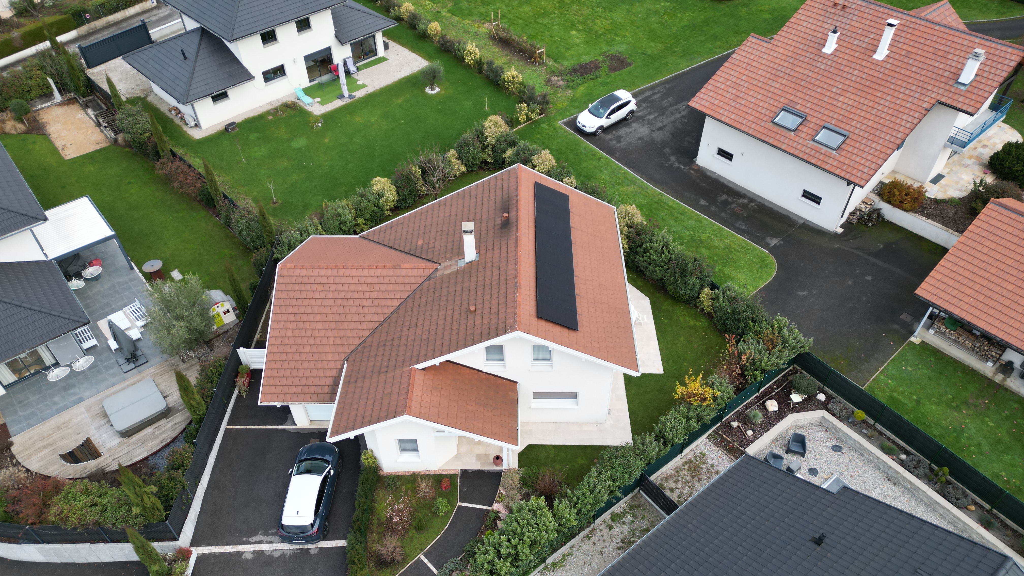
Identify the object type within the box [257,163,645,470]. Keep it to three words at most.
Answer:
house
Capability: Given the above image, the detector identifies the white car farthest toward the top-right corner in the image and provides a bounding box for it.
[575,90,638,136]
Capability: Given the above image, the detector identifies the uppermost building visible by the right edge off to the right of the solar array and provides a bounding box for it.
[686,0,1024,237]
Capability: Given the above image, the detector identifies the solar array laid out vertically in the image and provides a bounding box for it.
[534,181,580,331]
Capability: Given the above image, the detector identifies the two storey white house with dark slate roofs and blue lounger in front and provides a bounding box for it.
[123,0,400,129]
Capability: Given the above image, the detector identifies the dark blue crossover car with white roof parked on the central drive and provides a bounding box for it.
[274,442,342,546]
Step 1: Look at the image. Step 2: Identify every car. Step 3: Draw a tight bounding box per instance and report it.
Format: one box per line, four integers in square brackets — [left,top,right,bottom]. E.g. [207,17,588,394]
[575,90,638,136]
[274,442,342,546]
